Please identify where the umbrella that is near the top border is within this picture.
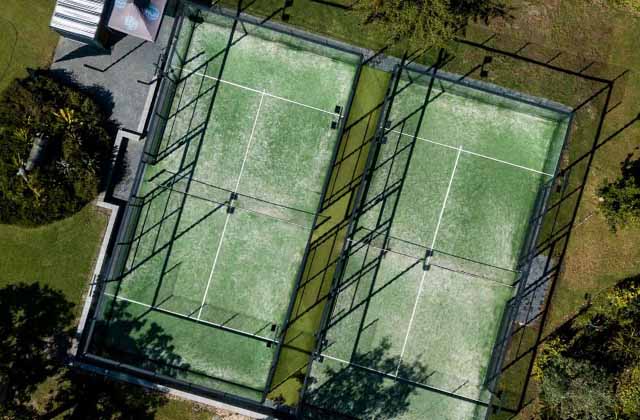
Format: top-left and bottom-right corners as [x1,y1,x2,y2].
[108,0,168,41]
